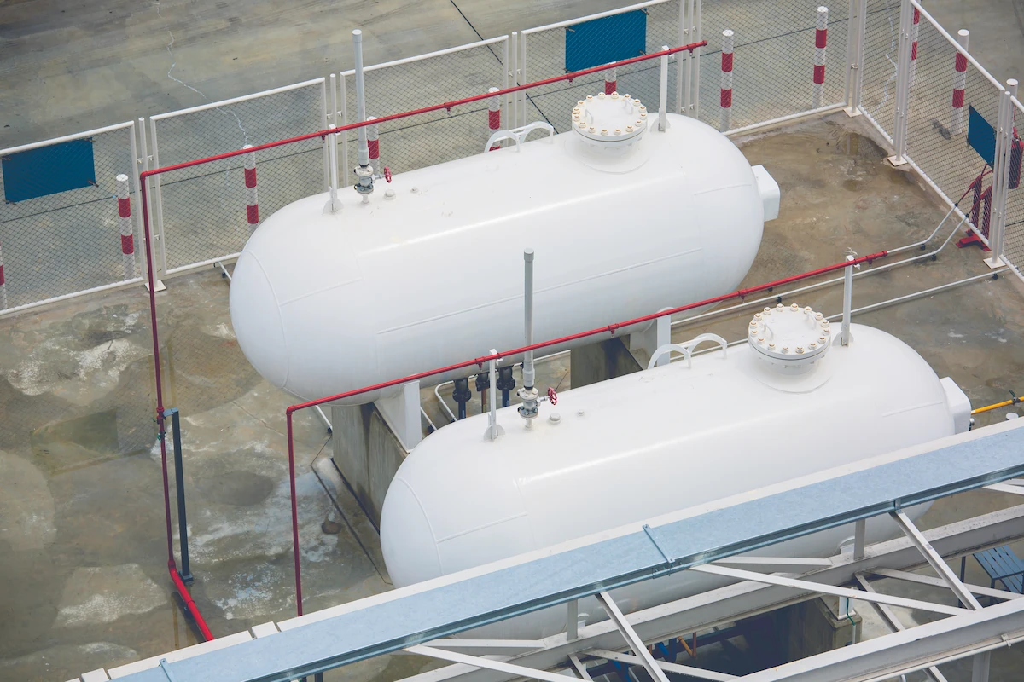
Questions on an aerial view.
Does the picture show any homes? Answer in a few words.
No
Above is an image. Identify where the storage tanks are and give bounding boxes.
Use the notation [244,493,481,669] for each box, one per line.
[379,248,971,682]
[230,30,781,451]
